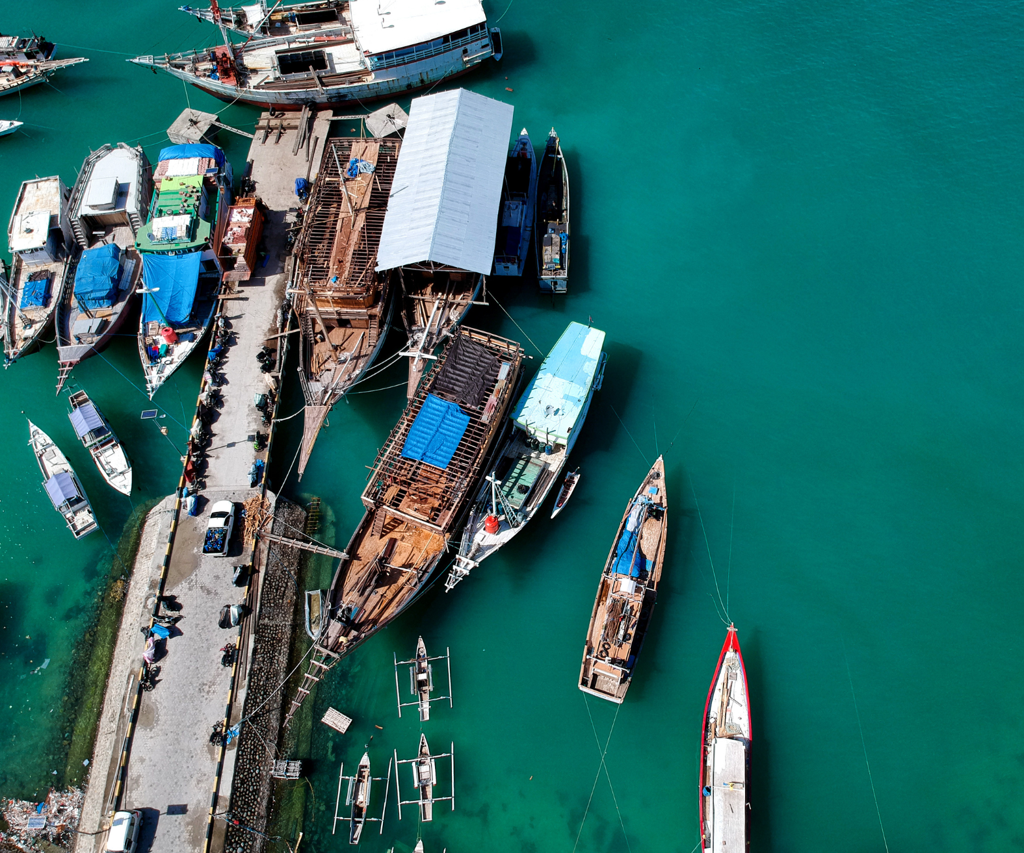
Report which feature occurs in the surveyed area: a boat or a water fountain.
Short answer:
boat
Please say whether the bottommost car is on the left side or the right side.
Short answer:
left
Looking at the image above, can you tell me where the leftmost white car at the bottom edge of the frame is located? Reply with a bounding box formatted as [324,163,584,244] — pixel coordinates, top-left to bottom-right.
[105,814,140,853]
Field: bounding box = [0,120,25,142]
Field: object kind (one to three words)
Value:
boat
